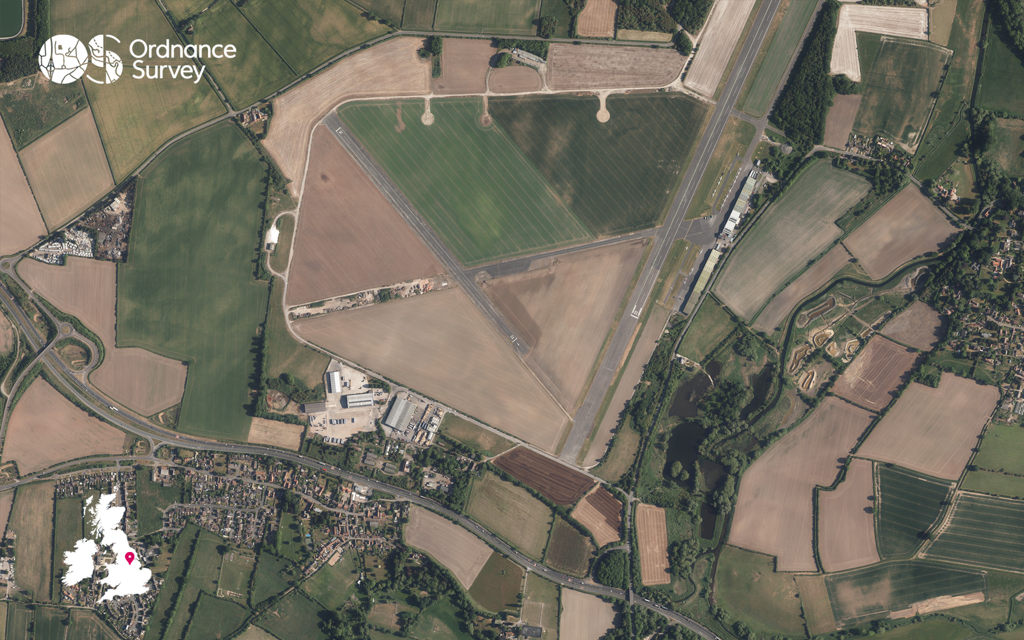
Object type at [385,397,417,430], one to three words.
building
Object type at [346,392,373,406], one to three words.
building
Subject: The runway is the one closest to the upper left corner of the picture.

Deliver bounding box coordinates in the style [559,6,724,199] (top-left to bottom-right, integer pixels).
[322,112,532,358]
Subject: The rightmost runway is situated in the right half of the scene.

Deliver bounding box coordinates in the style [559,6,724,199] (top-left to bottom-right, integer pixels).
[568,0,782,466]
